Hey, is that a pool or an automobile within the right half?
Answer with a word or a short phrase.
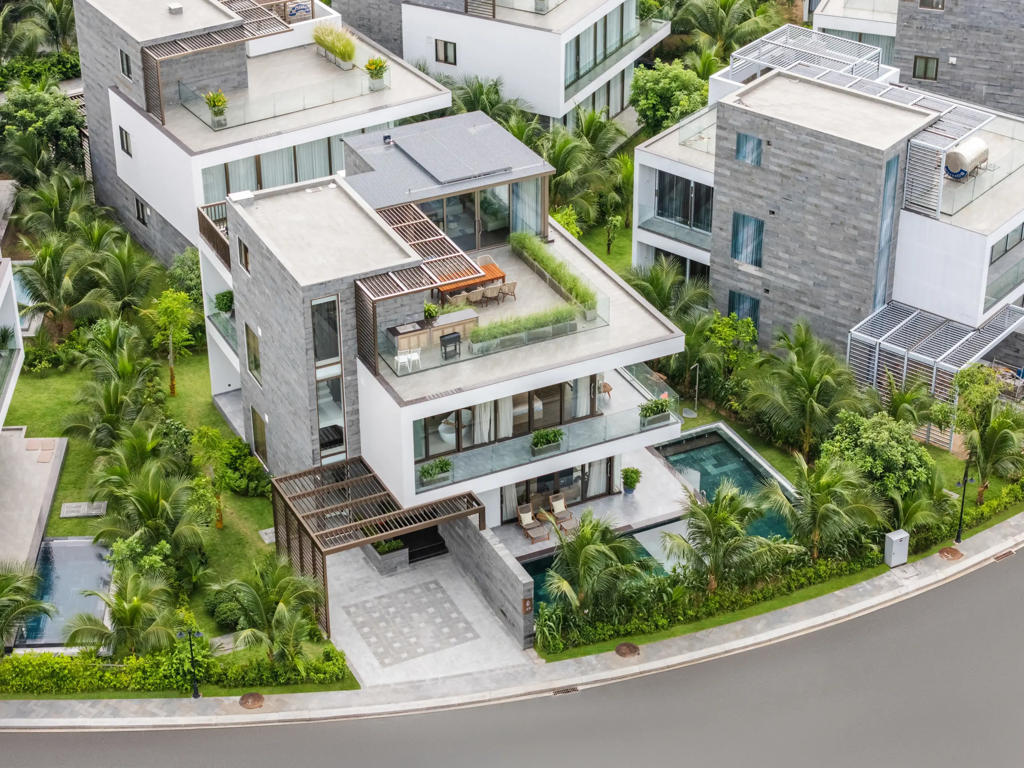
pool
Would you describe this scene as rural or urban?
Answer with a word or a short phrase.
urban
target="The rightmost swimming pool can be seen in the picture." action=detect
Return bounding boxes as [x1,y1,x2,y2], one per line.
[521,424,833,625]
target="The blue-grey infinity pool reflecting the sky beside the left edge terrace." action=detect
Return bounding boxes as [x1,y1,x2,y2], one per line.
[1,533,133,670]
